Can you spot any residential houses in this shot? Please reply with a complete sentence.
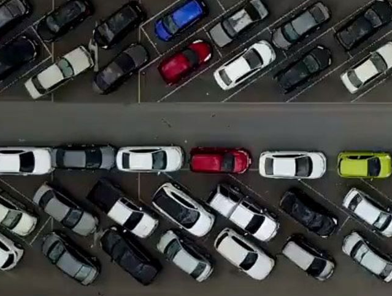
No, I can't see a single residential house in this photo.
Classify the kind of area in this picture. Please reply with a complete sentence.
The picture captures a parking lot.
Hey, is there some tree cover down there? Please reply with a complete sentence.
No, no tree cover is visible.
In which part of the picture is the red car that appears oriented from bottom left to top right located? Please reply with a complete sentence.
The red car that appears oriented from bottom left to top right is in the top part of the image.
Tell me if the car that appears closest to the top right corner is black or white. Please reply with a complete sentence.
The car that appears closest to the top right corner is black.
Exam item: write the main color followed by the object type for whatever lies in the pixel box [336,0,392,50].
black car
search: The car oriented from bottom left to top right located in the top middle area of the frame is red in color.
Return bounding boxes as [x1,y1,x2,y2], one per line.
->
[159,40,213,83]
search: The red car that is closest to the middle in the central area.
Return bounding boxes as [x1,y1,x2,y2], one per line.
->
[190,146,251,177]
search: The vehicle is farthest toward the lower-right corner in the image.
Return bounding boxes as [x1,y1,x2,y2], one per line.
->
[343,230,392,283]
